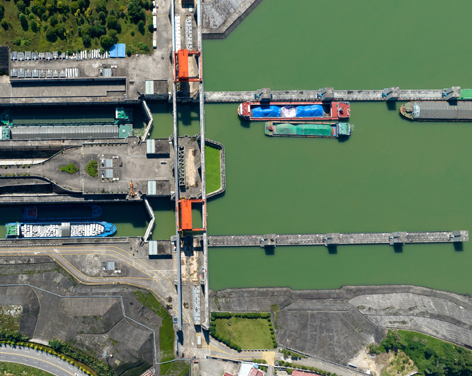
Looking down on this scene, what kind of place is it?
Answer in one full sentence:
The area seen from above is a port.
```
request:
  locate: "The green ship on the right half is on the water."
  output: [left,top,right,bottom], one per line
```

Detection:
[264,121,352,137]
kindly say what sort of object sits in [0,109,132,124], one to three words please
ship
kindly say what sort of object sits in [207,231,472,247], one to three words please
pier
